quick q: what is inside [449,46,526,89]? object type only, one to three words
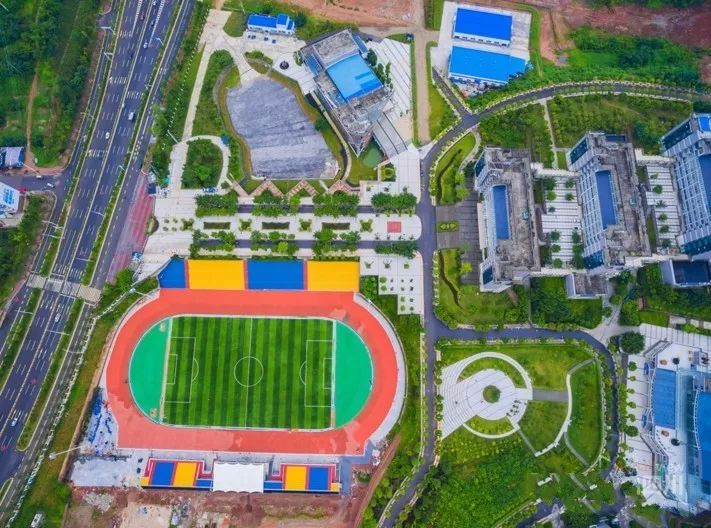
building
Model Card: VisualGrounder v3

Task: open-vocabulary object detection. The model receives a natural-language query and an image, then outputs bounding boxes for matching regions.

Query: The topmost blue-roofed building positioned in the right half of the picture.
[451,6,514,49]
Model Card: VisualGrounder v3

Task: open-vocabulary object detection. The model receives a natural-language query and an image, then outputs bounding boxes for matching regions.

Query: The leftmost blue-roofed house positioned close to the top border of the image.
[248,14,296,35]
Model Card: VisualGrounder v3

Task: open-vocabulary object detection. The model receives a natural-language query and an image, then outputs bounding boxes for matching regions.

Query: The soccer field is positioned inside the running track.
[160,315,335,431]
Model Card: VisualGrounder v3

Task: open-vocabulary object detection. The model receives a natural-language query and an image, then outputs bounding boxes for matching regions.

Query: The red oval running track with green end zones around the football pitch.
[105,290,397,456]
